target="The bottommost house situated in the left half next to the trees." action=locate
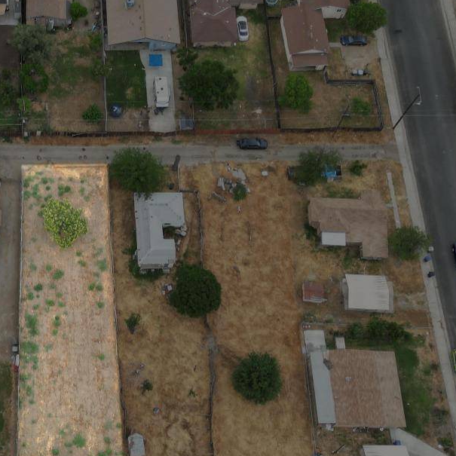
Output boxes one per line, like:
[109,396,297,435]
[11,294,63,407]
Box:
[134,191,184,271]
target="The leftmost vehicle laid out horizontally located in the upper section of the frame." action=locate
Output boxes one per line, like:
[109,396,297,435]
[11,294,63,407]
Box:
[236,136,267,150]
